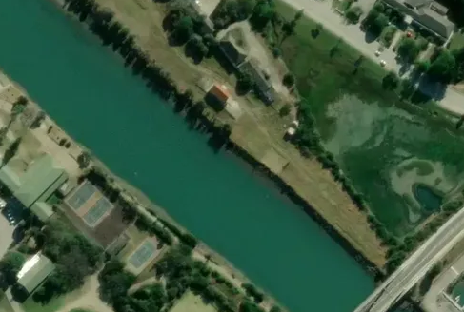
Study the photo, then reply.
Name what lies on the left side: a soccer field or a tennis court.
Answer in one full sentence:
Looking on the left side, you will find a tennis court.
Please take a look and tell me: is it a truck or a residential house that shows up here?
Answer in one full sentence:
There is a residential house in the scene.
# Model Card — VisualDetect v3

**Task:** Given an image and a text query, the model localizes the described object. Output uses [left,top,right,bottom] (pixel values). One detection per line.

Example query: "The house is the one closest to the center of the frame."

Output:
[203,84,228,108]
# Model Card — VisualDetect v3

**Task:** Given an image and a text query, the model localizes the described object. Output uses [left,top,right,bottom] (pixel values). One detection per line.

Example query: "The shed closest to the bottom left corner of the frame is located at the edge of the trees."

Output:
[17,254,54,292]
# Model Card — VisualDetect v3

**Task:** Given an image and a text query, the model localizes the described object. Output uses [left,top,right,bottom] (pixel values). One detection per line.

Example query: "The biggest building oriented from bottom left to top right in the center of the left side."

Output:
[14,154,66,203]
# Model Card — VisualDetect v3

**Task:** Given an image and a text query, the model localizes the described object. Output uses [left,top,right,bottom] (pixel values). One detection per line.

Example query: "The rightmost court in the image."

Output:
[123,235,161,277]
